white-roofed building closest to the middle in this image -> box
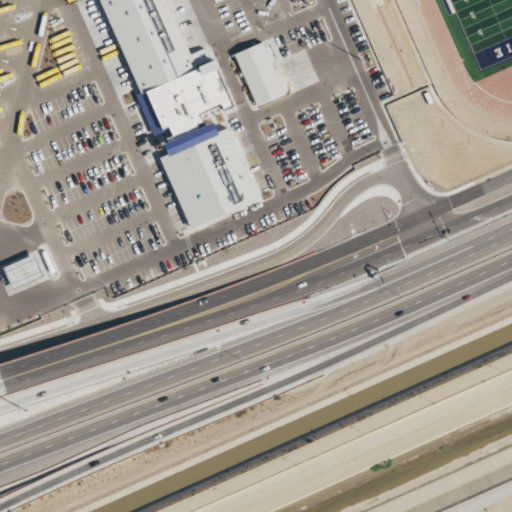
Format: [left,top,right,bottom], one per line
[160,126,260,228]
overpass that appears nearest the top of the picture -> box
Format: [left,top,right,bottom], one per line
[0,252,318,398]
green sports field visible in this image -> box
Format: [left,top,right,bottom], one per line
[436,0,512,82]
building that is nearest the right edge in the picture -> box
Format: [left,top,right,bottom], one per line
[233,42,286,108]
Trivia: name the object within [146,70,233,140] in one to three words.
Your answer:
building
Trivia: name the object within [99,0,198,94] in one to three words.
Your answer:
building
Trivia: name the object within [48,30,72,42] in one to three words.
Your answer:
vehicle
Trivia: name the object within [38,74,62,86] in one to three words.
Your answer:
vehicle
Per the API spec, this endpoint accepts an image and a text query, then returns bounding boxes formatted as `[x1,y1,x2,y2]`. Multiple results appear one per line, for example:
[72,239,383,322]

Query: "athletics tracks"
[419,0,512,122]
